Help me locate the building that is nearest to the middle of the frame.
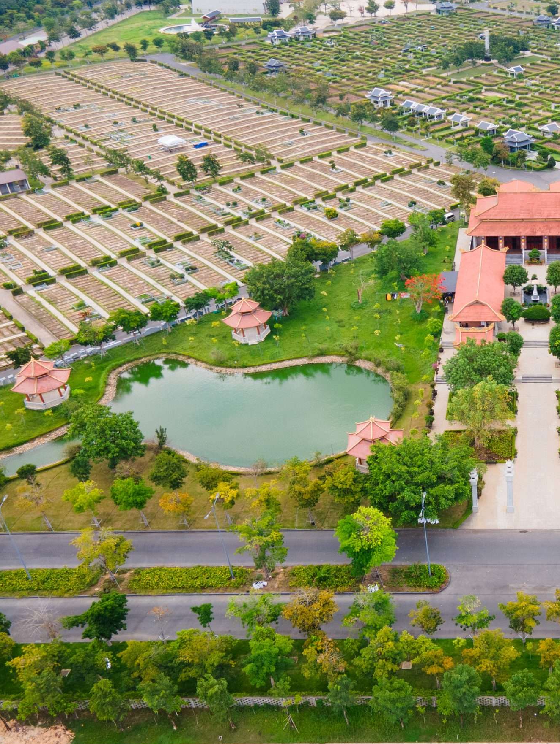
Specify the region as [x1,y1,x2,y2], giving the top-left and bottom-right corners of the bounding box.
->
[218,294,277,342]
